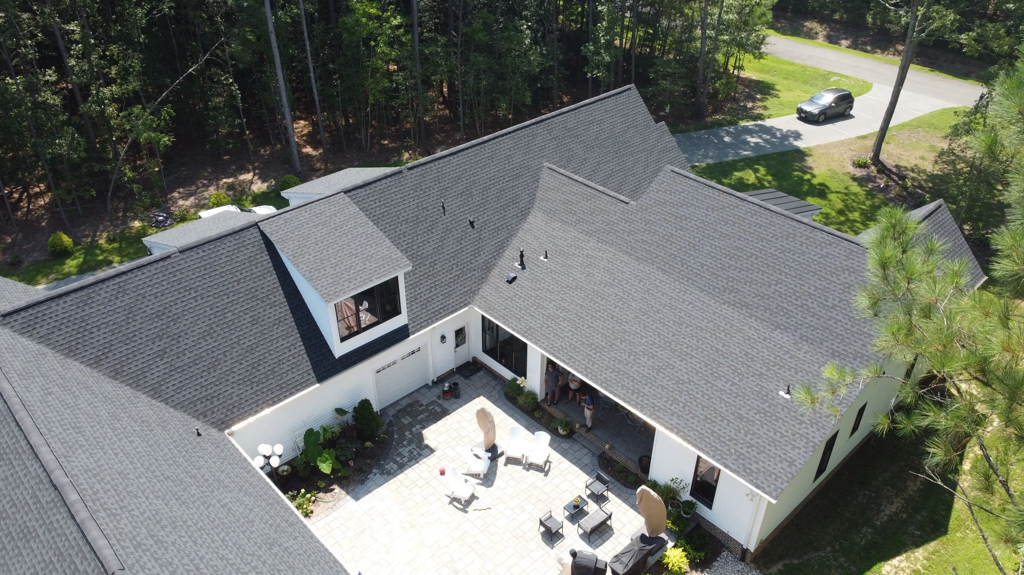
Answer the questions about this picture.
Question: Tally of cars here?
two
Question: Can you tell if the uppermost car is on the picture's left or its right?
right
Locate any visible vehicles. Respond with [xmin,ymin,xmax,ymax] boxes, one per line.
[798,86,860,123]
[191,202,280,222]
